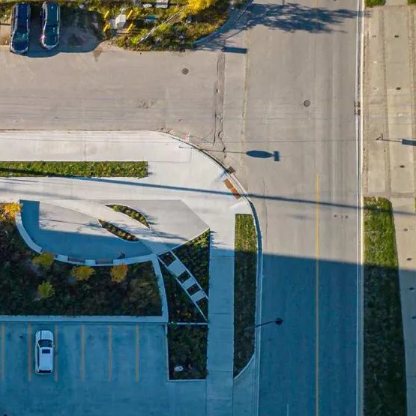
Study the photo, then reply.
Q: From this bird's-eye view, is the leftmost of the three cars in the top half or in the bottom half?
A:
top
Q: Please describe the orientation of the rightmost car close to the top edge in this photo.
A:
vertically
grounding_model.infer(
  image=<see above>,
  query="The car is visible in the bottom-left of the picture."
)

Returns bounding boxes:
[33,329,55,375]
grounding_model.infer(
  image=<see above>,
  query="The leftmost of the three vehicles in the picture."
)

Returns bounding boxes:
[8,2,32,55]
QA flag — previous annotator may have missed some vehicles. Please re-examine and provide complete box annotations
[33,329,55,375]
[39,1,62,50]
[8,2,32,55]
